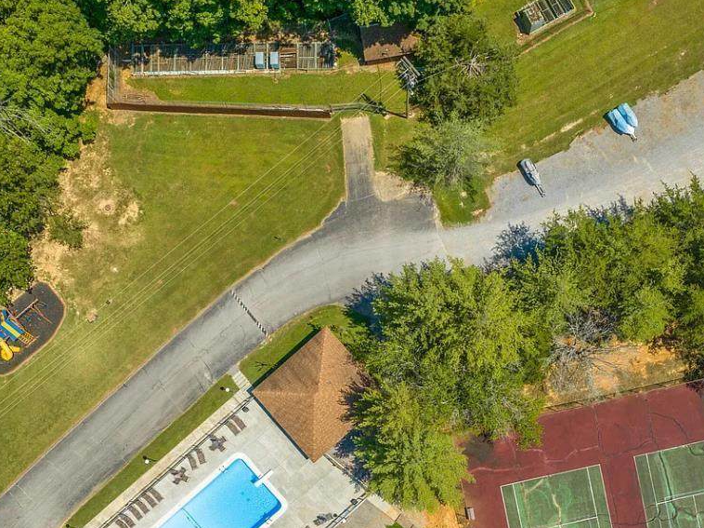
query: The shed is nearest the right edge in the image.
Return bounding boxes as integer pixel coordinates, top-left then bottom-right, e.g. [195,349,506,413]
[360,17,422,73]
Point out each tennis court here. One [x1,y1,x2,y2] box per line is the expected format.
[501,466,612,528]
[633,441,704,528]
